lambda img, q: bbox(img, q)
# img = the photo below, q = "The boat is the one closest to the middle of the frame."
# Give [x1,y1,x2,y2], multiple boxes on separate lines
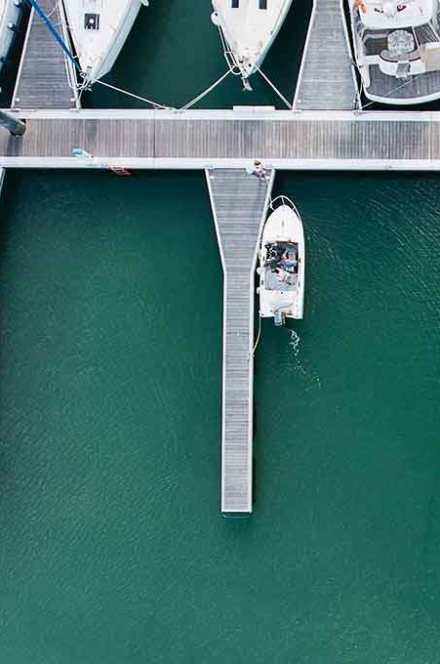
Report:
[259,195,306,323]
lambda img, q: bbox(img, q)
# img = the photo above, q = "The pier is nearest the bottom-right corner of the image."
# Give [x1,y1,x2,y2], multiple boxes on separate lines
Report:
[206,169,274,519]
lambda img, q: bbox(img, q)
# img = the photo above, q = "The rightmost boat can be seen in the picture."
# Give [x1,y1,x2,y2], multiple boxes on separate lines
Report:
[351,0,440,108]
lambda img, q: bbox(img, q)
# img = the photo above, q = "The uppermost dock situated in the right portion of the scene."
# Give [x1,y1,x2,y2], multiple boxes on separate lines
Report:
[293,0,361,112]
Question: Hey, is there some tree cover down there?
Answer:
No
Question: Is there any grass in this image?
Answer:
No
